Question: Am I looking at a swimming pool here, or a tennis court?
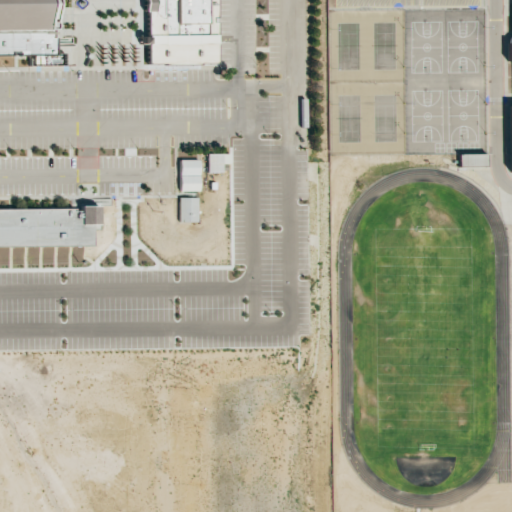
tennis court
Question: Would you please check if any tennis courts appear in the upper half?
Yes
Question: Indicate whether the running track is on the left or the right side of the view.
right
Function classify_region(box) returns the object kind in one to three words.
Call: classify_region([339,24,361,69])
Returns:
tennis court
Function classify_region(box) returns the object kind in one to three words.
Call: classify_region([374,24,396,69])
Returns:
tennis court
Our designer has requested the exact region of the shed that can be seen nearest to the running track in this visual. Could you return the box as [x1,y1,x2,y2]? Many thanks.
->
[460,154,490,166]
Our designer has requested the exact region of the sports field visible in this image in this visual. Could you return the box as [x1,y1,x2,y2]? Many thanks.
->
[352,181,497,494]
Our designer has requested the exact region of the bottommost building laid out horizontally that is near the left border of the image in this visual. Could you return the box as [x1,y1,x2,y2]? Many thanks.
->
[0,206,103,246]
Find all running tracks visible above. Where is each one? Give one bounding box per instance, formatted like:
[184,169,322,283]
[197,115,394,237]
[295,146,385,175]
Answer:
[338,168,512,508]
